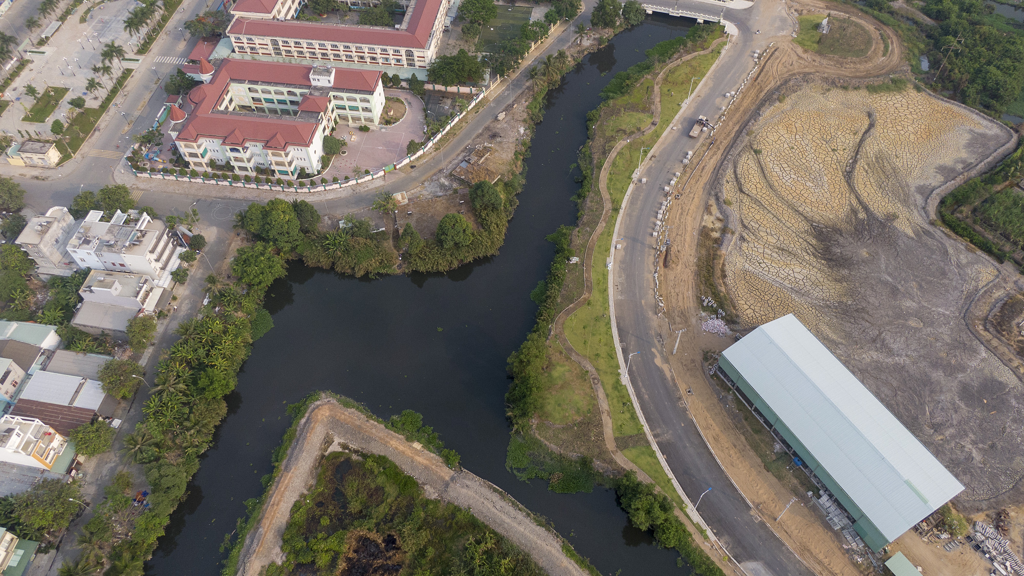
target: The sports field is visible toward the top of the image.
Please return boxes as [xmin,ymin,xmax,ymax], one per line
[479,1,533,53]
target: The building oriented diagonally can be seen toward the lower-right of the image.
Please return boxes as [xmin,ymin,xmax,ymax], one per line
[715,313,964,554]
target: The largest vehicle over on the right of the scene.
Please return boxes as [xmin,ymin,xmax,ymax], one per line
[689,110,718,137]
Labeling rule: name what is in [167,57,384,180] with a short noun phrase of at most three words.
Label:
building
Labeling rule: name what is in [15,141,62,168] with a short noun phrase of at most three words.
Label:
building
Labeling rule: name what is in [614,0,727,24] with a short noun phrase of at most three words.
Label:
bridge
